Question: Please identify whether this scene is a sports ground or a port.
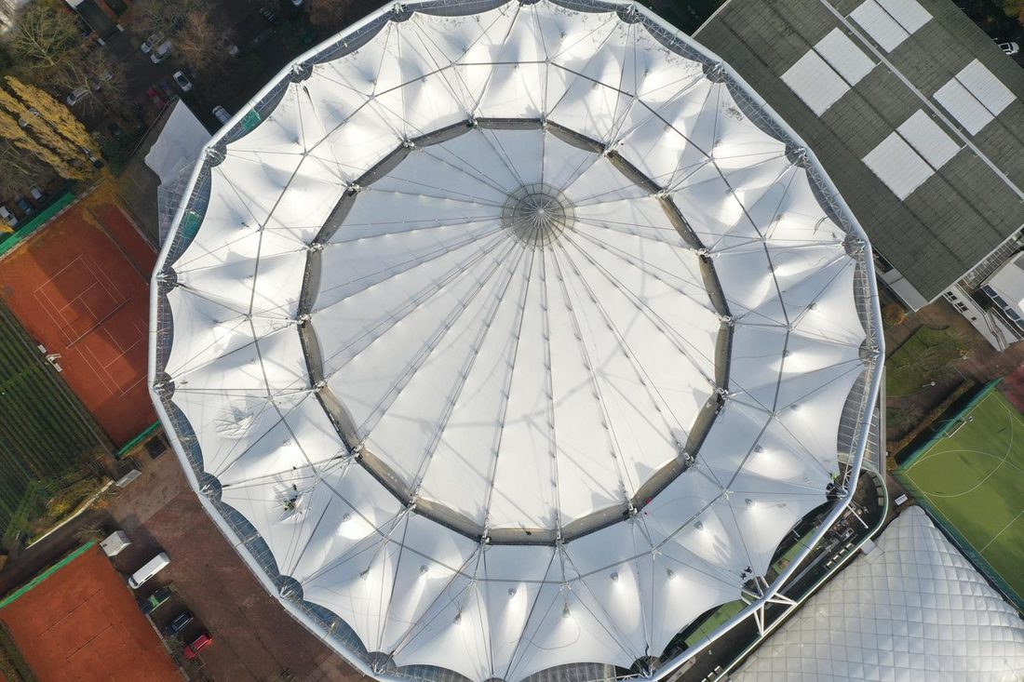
sports ground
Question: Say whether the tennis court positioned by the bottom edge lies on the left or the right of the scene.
left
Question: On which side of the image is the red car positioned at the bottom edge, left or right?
left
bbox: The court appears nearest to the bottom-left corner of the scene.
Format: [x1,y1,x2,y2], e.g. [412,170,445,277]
[0,549,183,682]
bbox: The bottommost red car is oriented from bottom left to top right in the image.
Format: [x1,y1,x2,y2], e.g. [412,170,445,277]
[181,633,210,660]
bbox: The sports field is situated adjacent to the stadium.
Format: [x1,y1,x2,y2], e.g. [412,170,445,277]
[891,385,1024,602]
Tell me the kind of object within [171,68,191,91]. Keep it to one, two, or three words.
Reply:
car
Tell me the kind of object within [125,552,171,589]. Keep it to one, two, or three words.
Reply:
van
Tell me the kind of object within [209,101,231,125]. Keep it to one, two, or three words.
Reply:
vehicle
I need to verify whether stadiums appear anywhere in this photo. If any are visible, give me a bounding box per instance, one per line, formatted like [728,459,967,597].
[150,0,889,682]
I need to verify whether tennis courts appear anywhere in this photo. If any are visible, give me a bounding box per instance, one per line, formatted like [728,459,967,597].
[94,200,159,285]
[0,549,183,682]
[0,198,163,449]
